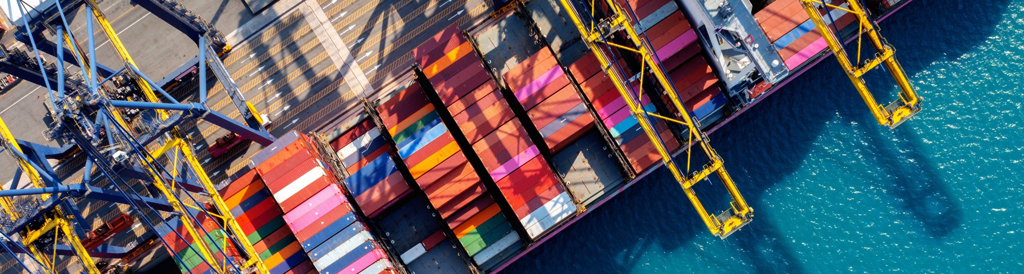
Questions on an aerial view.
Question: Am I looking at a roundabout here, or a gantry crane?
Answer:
gantry crane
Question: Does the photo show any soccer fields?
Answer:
No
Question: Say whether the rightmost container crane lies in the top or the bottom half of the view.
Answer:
top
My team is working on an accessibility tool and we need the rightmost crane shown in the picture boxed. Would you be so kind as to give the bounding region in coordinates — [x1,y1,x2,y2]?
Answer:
[790,0,926,138]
